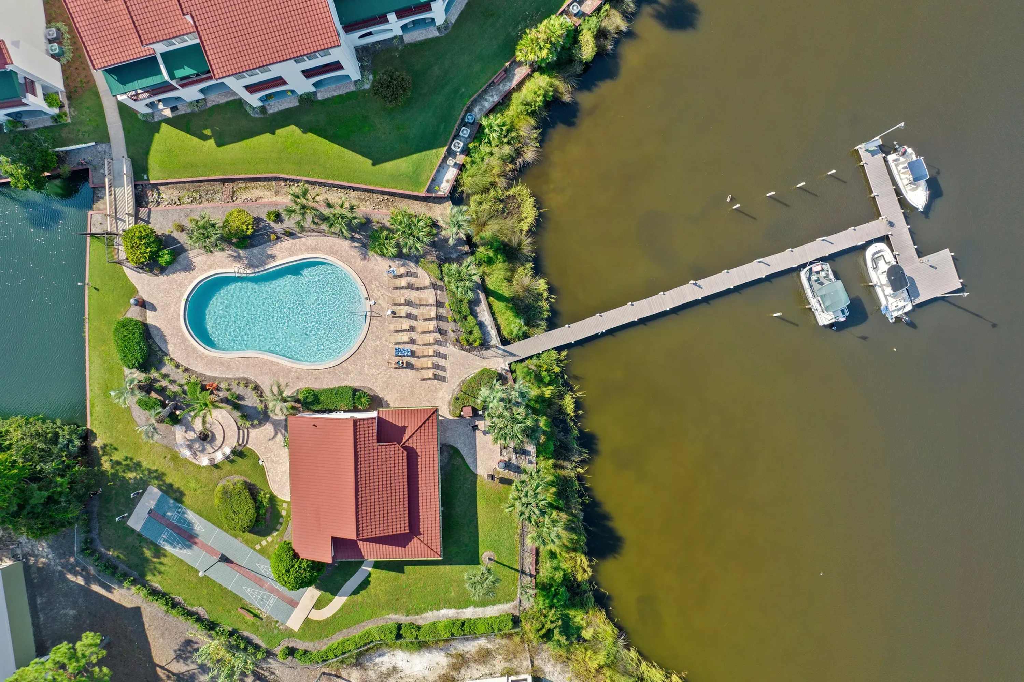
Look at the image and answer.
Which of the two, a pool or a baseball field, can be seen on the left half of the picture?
pool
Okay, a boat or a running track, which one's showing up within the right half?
boat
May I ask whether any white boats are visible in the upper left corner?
No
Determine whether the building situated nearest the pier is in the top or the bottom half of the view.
bottom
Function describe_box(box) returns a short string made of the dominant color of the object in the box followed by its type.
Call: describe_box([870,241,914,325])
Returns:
white boat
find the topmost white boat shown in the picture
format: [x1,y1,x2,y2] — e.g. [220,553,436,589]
[888,144,930,213]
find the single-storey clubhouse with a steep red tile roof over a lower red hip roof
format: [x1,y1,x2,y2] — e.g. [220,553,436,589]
[287,406,444,559]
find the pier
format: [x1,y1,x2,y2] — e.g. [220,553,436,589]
[502,144,962,365]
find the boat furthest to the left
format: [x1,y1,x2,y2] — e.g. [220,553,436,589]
[805,260,847,332]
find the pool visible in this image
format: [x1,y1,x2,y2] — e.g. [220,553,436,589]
[180,254,379,369]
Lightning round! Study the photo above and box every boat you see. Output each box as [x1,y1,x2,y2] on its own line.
[870,241,914,325]
[805,260,847,332]
[888,144,930,213]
